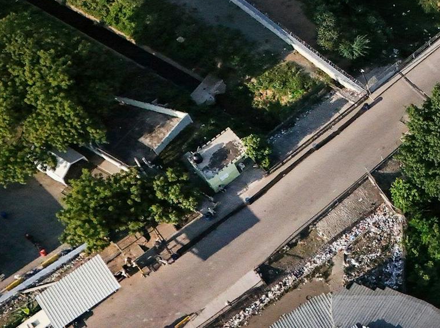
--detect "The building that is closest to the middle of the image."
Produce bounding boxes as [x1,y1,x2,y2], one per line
[186,127,250,195]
